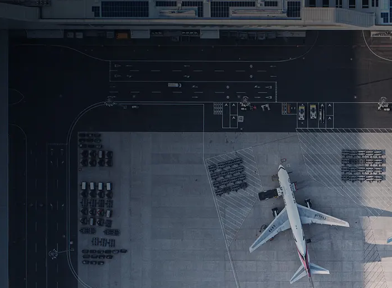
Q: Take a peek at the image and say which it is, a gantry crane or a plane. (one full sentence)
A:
I can see a plane in this picture.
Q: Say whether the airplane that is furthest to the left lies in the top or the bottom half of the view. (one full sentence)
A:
It is in the bottom half that the airplane that is furthest to the left appears.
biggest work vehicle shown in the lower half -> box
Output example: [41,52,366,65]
[257,189,282,202]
